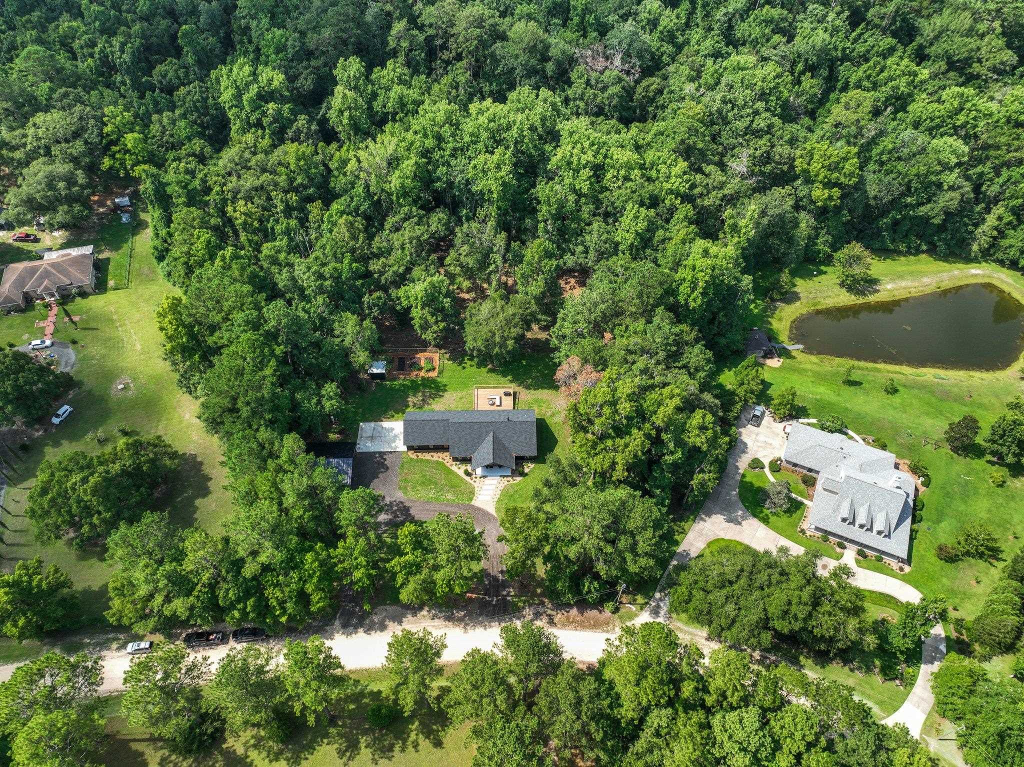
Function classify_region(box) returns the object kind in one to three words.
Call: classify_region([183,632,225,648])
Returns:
vehicle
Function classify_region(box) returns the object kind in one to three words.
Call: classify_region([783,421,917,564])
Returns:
house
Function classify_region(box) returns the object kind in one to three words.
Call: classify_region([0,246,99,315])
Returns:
house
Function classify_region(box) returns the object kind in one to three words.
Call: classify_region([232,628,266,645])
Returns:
car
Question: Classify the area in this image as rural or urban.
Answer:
rural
